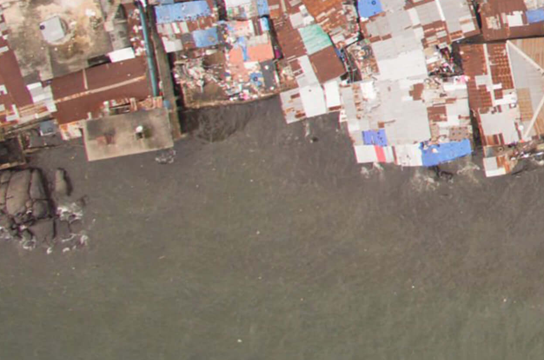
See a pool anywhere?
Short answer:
No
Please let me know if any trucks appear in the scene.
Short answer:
No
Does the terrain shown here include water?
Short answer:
Yes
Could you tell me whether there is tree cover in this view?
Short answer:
No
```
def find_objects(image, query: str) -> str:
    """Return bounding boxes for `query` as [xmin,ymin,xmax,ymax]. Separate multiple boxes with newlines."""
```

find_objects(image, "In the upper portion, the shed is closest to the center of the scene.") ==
[280,83,329,124]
